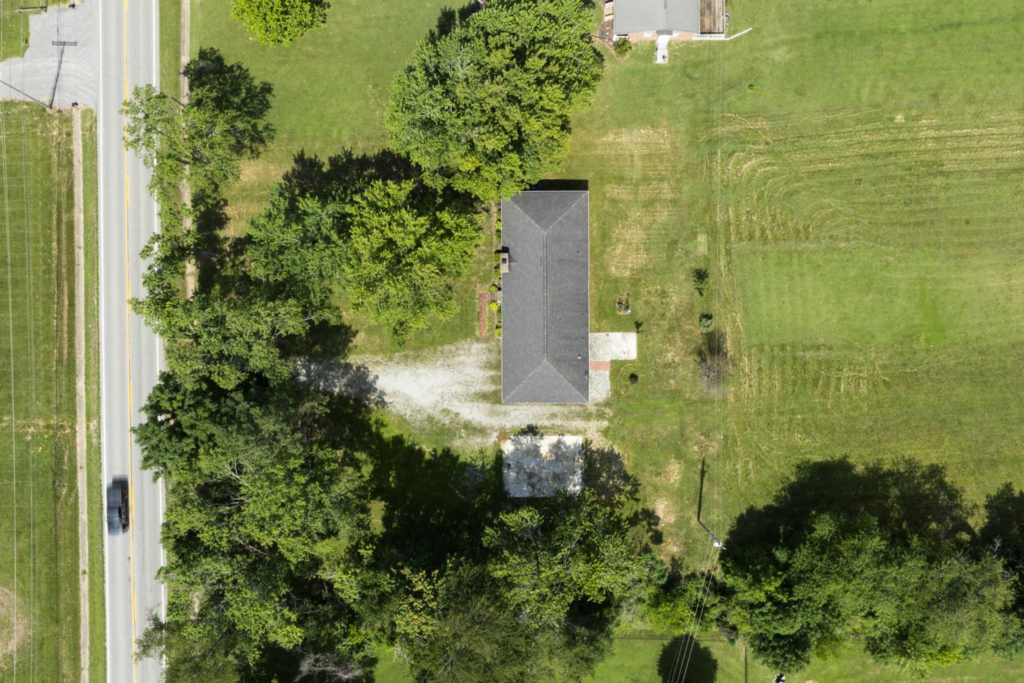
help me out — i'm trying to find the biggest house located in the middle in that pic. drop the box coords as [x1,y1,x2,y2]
[501,190,590,403]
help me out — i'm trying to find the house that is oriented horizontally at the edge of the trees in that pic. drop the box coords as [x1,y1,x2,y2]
[604,0,701,42]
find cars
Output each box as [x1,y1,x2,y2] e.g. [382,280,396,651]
[104,491,128,536]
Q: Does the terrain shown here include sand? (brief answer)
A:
No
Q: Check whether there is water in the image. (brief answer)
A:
No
